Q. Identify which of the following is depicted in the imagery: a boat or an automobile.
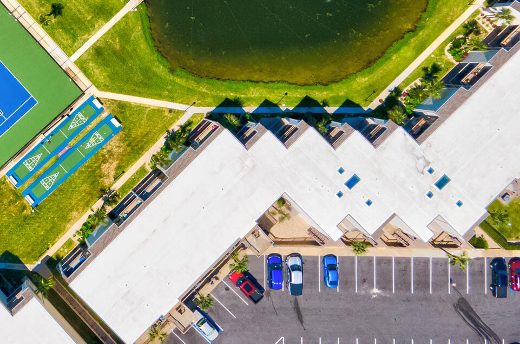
automobile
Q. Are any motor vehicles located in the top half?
No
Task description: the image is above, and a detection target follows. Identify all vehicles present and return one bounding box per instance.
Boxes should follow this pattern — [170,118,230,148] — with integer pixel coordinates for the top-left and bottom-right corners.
[286,252,304,293]
[268,254,285,287]
[233,271,266,304]
[324,253,340,284]
[490,255,509,294]
[508,256,520,286]
[194,311,219,340]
